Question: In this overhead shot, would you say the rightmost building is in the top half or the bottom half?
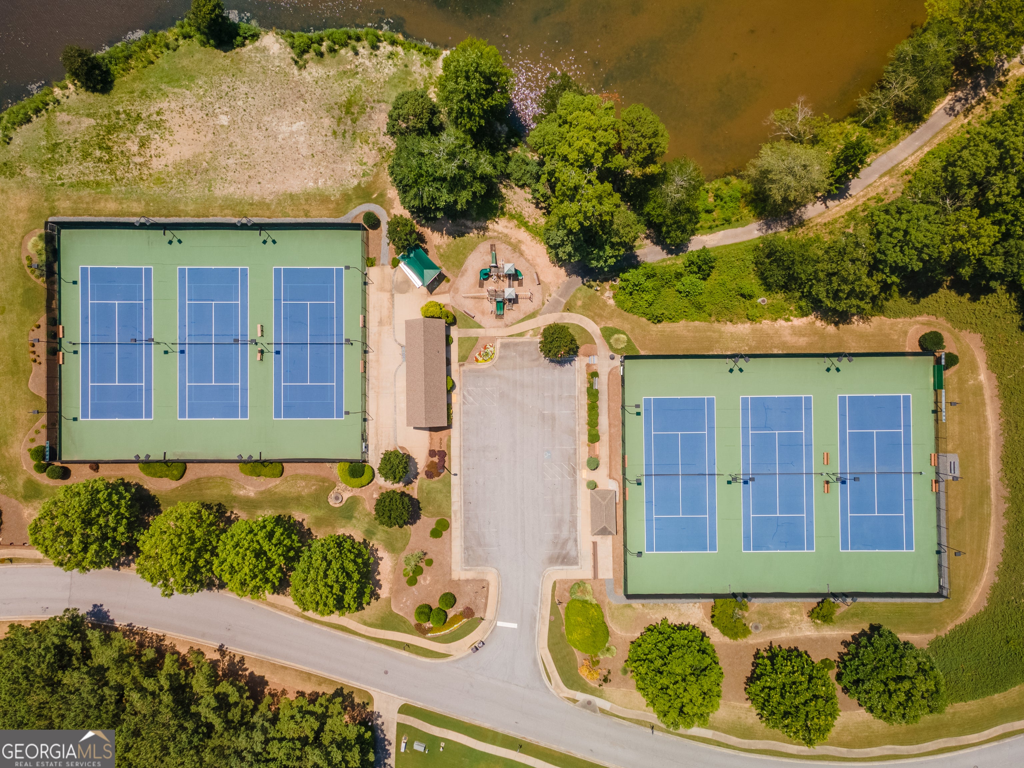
bottom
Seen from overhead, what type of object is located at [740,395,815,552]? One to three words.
tennis court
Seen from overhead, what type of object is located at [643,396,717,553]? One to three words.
tennis court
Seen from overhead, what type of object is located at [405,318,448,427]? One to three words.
building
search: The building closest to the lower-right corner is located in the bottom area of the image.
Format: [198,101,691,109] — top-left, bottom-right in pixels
[589,488,617,536]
